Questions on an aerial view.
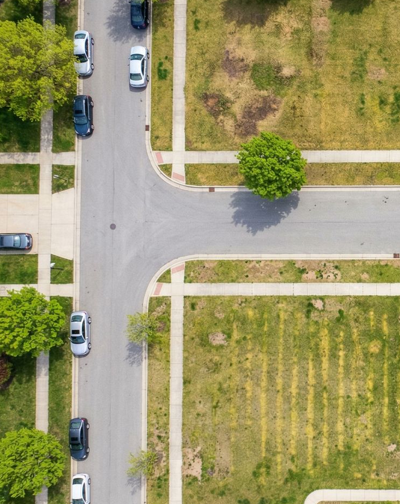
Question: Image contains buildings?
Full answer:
No, no building can be seen from above.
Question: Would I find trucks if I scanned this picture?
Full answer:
No, there appears to be no truck in this shot.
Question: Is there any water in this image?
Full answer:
No, water can't be seen anywhere here.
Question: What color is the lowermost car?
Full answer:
The color of the lowermost car is white.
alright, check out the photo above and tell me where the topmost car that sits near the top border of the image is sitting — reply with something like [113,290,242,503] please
[130,0,153,34]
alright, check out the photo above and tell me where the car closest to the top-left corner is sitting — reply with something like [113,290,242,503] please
[75,30,98,76]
